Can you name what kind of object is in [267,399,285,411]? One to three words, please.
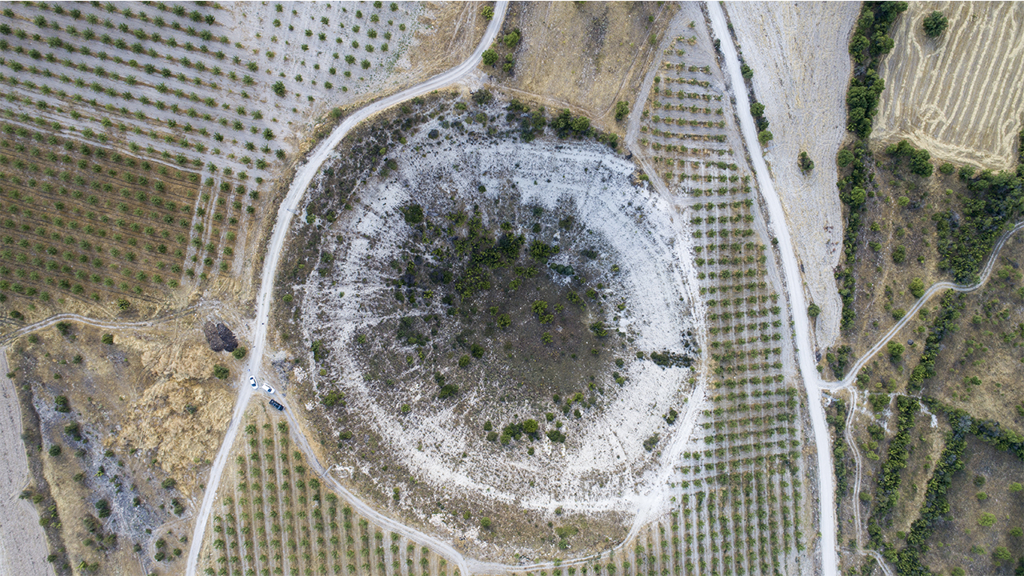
vehicle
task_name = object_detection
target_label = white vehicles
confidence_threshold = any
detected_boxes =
[261,383,276,394]
[249,375,258,390]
